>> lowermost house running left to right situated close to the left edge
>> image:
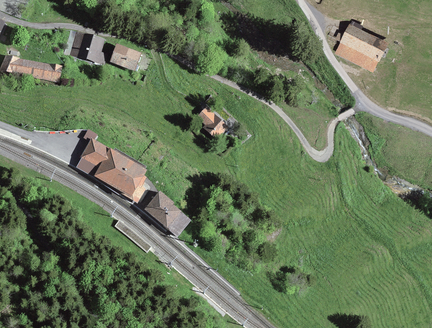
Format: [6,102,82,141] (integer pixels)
[0,53,64,82]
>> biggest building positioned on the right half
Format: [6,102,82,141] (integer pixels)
[334,19,388,73]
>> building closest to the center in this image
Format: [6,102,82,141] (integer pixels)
[198,104,229,136]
